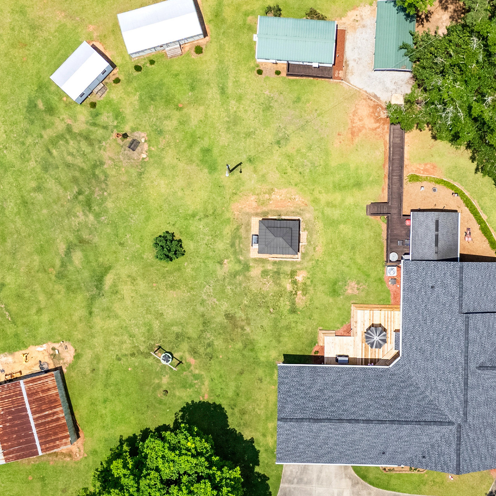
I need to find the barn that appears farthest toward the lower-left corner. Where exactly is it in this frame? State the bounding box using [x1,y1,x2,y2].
[0,367,84,462]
